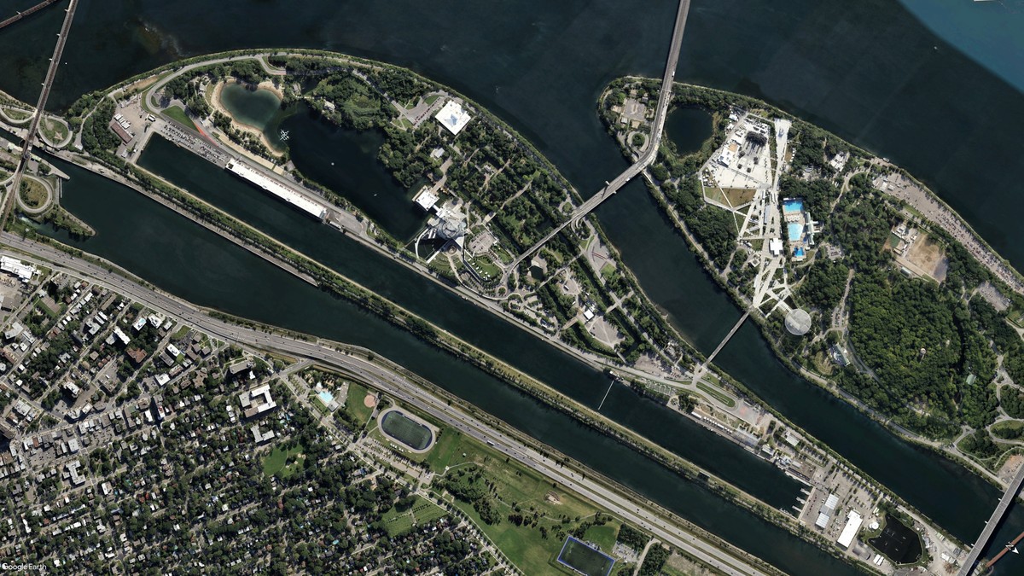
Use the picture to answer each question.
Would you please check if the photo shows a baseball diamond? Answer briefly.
Yes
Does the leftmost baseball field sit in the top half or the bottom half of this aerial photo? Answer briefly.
bottom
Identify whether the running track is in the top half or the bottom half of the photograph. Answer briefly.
bottom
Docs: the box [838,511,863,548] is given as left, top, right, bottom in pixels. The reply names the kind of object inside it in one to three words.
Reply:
building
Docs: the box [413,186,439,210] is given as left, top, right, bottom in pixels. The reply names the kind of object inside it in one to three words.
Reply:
building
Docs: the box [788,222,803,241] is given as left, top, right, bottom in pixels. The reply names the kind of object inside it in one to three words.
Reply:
swimming pool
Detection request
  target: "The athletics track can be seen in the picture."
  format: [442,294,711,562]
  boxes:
[377,405,447,455]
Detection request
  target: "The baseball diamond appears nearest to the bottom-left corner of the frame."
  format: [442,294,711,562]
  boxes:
[347,382,378,421]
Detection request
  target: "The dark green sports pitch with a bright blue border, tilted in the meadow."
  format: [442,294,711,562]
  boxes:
[557,535,615,576]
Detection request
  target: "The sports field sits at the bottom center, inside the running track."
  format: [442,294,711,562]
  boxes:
[383,410,430,449]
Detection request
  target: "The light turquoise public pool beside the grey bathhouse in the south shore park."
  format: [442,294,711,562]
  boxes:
[317,389,334,405]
